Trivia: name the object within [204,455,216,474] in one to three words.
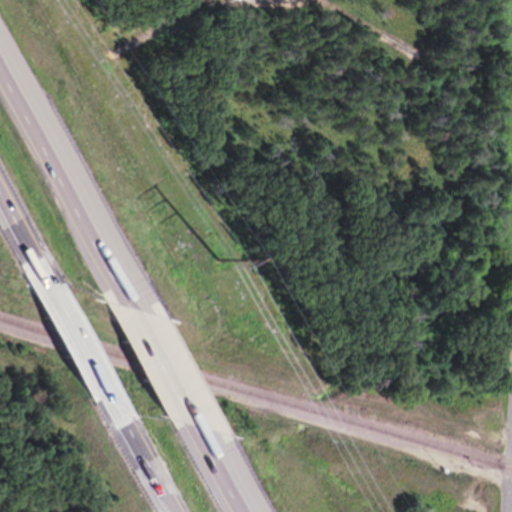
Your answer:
vehicle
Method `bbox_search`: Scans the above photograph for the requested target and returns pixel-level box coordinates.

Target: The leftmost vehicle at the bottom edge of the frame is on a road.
[140,459,162,498]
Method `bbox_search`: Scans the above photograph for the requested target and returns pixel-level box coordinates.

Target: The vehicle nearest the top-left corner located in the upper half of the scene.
[44,160,56,178]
